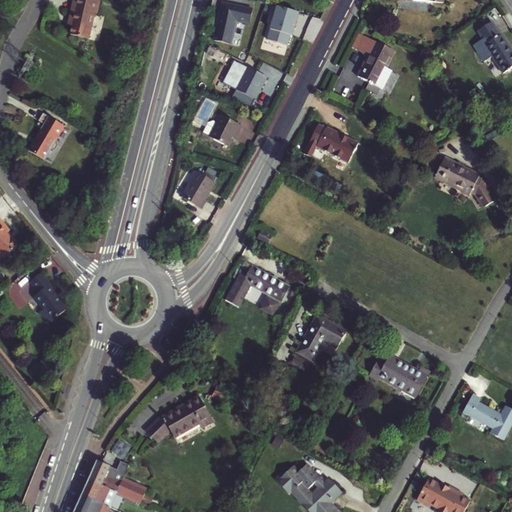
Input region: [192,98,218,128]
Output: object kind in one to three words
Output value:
swimming pool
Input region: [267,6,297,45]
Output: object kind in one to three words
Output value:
house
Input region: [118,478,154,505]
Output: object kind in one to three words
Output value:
barn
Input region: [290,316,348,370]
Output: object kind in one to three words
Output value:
house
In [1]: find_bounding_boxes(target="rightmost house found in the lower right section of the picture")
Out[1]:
[462,394,512,442]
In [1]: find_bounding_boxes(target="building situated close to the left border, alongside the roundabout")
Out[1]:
[18,276,63,322]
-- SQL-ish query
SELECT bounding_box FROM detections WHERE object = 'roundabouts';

[82,257,178,352]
